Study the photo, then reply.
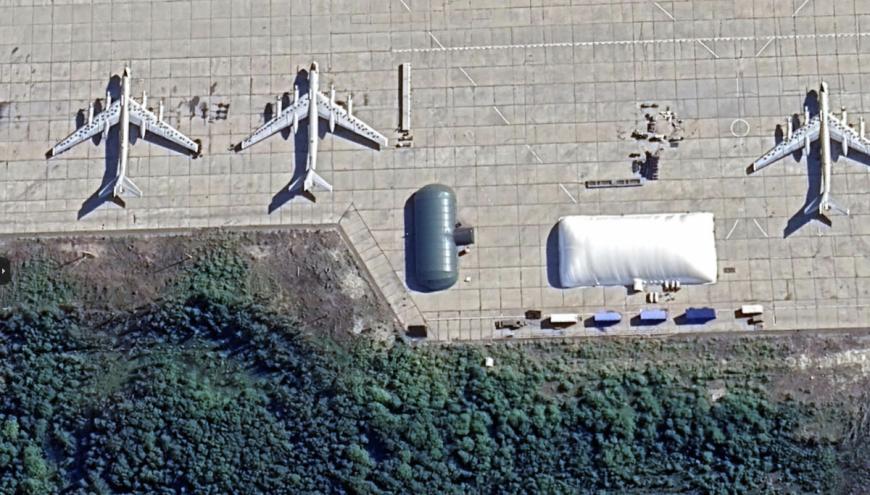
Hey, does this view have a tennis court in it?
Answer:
No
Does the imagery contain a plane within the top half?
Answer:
Yes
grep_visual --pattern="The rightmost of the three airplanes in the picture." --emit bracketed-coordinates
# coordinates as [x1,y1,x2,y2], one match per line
[752,79,870,215]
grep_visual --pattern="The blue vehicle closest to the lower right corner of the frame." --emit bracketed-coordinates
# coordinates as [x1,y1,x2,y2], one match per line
[686,307,719,319]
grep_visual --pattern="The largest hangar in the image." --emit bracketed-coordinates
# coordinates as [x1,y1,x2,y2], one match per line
[555,210,719,292]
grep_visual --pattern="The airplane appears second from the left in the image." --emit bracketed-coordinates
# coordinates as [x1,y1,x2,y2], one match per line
[243,63,387,194]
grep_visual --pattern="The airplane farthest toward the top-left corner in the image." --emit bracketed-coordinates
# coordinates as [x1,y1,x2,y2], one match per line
[54,68,198,197]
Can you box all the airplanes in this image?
[54,68,198,197]
[243,63,387,194]
[752,79,870,215]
